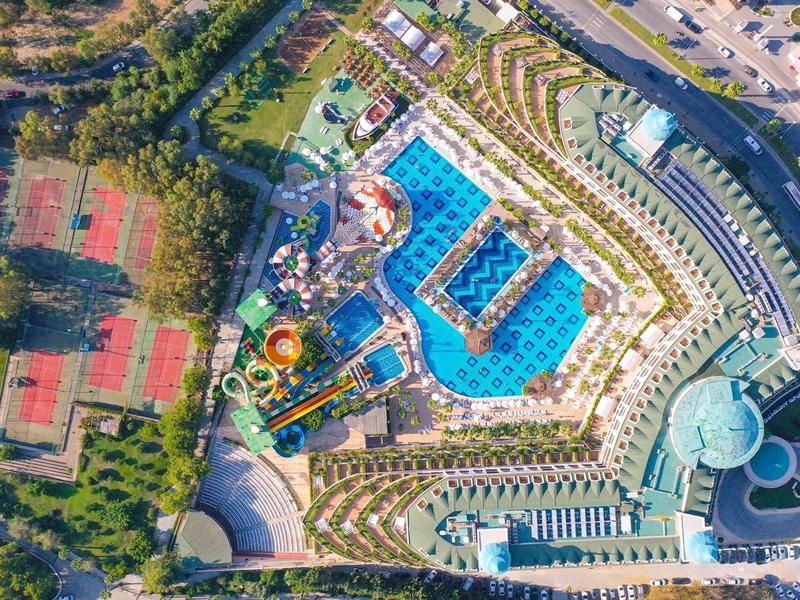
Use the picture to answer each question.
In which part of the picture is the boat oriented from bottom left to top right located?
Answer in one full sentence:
The boat oriented from bottom left to top right sits in the top section of the image.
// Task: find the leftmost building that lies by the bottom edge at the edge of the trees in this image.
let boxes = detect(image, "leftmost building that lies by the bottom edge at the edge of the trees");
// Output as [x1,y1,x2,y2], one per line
[176,511,234,571]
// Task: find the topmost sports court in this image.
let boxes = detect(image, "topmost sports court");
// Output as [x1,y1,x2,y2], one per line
[280,17,330,71]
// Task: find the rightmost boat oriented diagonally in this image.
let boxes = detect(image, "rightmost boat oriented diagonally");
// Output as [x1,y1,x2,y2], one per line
[355,88,399,140]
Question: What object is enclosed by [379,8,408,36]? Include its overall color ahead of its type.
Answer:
white tent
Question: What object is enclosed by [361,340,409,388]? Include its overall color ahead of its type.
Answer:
blue swimming pool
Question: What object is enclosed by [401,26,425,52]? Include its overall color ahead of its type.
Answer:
white tent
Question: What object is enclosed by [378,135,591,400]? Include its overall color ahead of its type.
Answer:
blue swimming pool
